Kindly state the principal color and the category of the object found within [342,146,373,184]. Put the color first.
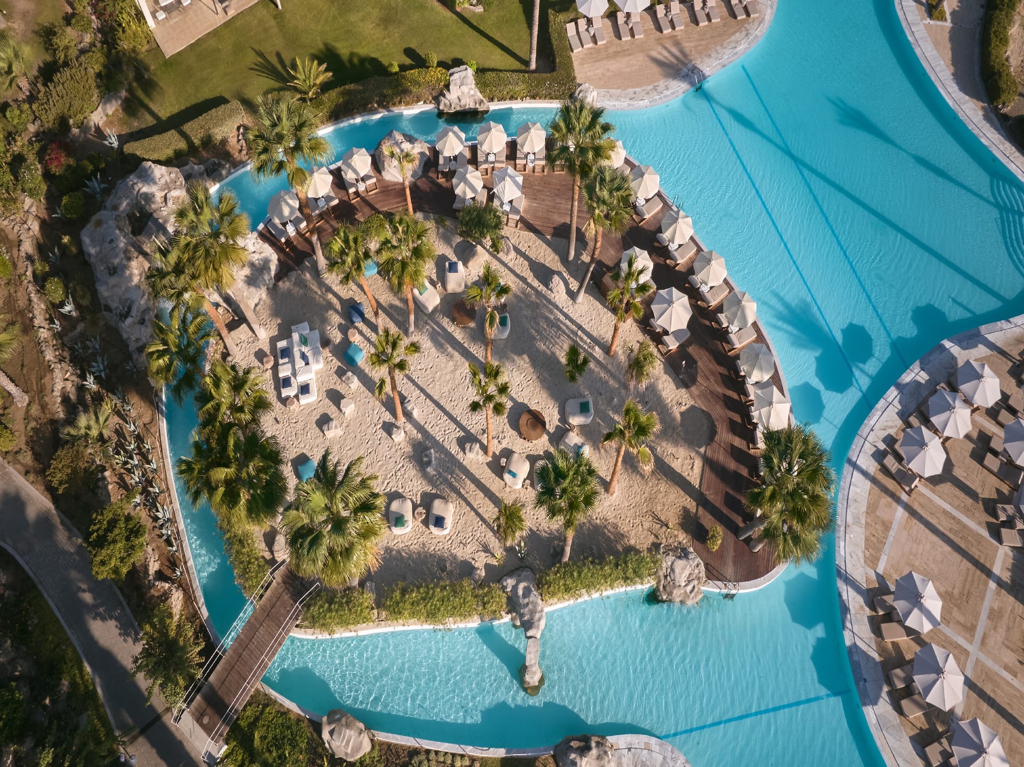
white umbrella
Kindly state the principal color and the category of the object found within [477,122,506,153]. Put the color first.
white umbrella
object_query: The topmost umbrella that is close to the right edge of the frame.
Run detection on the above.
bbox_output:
[956,357,999,409]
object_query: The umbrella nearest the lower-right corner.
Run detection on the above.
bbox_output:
[952,715,1008,767]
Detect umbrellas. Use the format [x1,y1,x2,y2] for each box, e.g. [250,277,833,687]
[622,247,653,280]
[650,287,692,338]
[578,0,609,21]
[724,290,756,328]
[629,166,659,209]
[452,166,482,212]
[304,165,334,212]
[894,570,945,634]
[752,383,793,432]
[515,123,544,168]
[738,341,773,388]
[692,250,726,295]
[910,645,964,711]
[342,146,373,184]
[661,209,693,256]
[269,189,301,227]
[928,388,972,441]
[617,0,650,21]
[952,715,1008,767]
[603,137,633,173]
[436,125,466,163]
[899,422,946,479]
[492,167,523,200]
[477,122,506,153]
[956,357,999,409]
